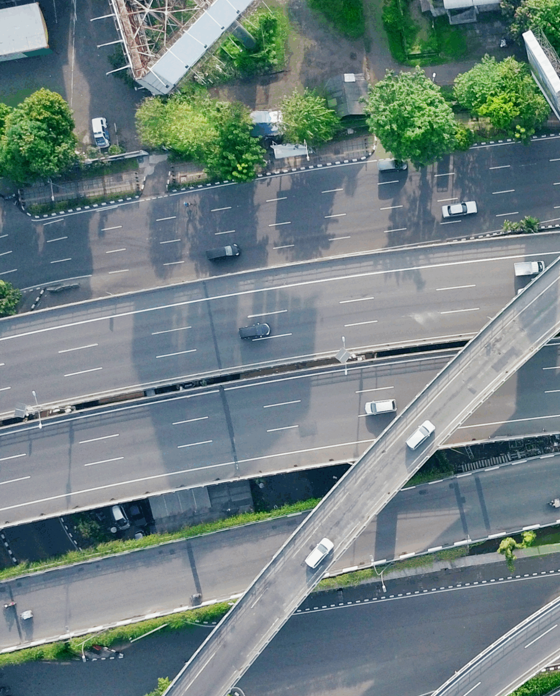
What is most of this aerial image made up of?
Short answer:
paved ground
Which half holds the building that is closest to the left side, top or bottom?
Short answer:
top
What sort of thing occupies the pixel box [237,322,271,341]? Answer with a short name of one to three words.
car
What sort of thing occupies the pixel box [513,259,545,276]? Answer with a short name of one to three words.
vehicle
